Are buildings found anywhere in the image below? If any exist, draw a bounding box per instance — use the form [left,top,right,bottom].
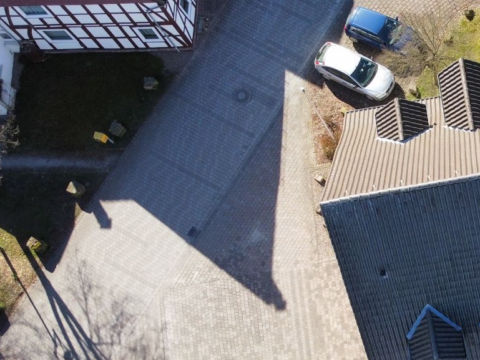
[320,60,480,360]
[0,0,197,48]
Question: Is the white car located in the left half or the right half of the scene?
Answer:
right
